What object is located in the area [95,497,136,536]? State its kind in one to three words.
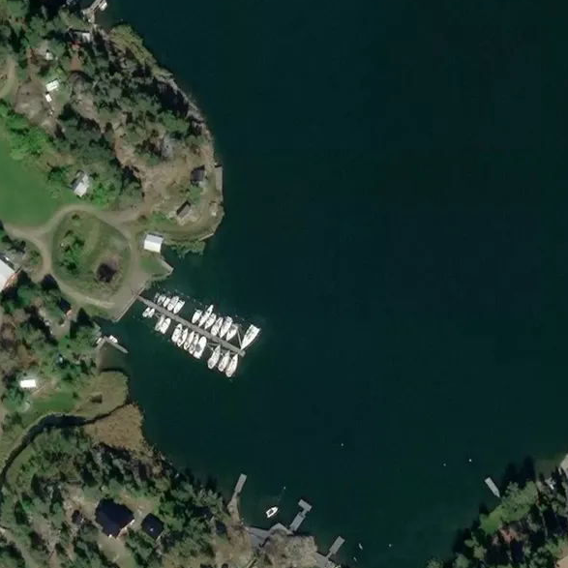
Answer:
house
